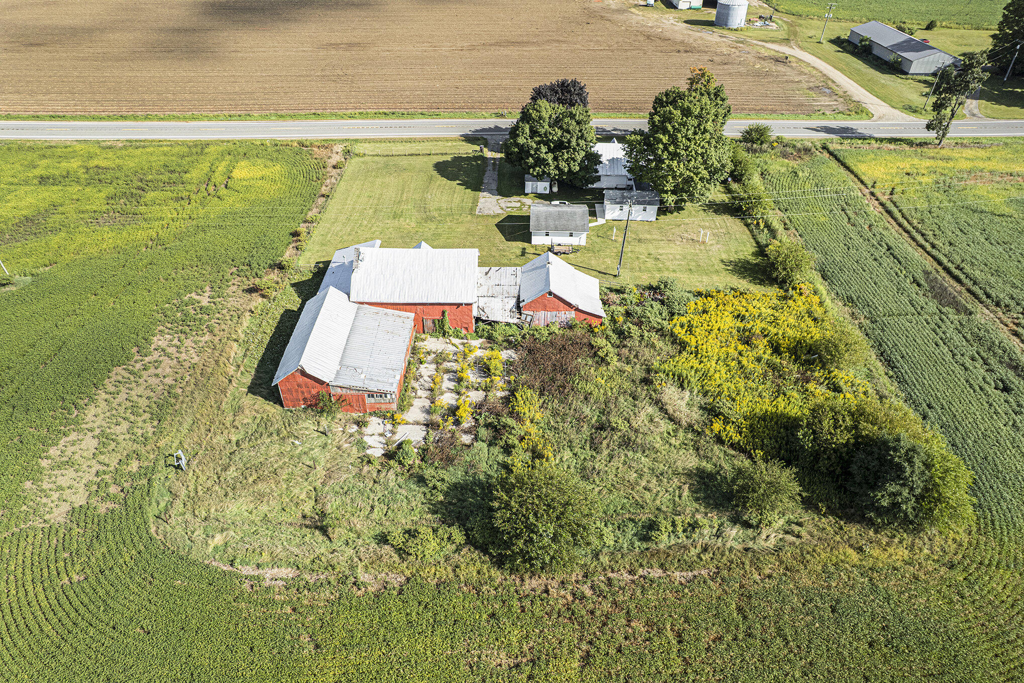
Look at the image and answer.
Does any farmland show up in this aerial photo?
Yes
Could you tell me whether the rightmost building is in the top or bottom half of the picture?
top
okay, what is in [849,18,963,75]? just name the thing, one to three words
building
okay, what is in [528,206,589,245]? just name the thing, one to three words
building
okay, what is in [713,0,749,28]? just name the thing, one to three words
silo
